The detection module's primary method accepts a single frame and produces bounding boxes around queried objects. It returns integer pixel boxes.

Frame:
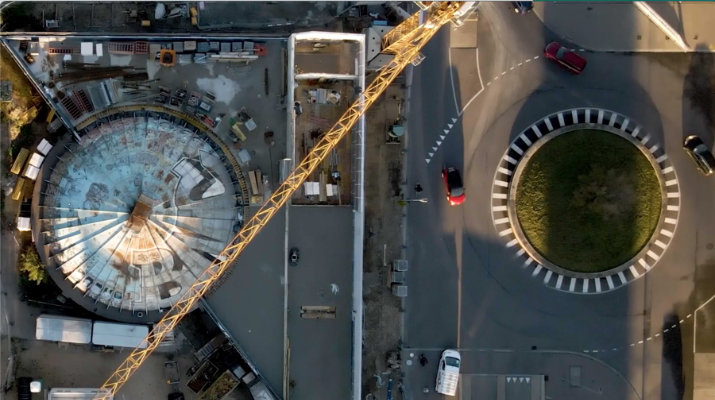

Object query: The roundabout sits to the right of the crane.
[492,107,680,295]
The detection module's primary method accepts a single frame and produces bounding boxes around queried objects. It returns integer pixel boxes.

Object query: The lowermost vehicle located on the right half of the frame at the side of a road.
[434,348,462,398]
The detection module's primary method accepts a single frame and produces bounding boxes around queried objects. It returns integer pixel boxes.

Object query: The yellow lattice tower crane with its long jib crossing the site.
[84,0,471,400]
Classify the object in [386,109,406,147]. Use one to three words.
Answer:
work vehicle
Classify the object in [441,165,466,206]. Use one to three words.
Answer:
car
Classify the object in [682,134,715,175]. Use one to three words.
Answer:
car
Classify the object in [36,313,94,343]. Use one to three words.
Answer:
building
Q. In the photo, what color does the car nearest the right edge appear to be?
black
